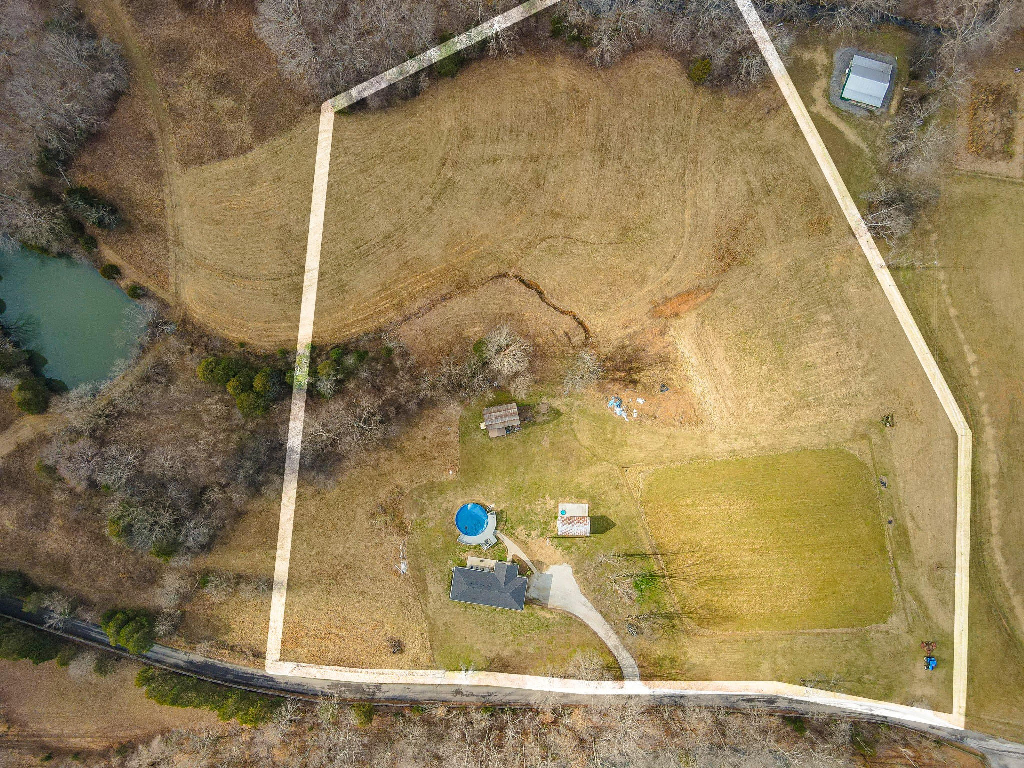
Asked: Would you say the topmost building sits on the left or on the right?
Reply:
right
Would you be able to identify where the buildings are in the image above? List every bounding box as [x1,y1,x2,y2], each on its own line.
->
[838,55,893,115]
[558,516,591,536]
[483,403,522,438]
[450,560,529,612]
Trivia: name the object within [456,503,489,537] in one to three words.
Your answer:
swimming pool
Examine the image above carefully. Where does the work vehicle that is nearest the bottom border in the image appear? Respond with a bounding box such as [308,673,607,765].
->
[925,656,938,672]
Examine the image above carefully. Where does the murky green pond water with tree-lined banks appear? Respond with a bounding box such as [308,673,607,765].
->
[0,240,144,389]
